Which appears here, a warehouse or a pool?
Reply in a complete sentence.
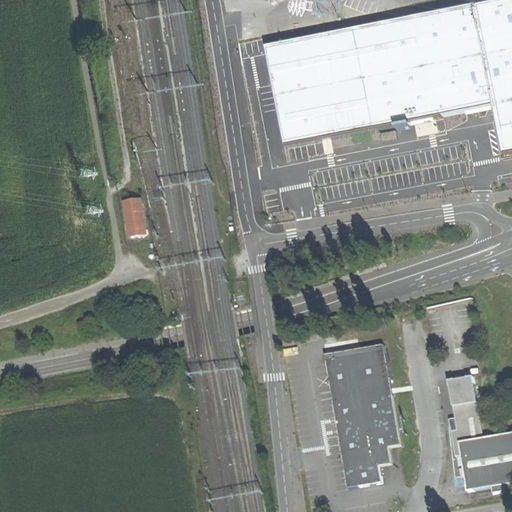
Of the two, only a warehouse appears.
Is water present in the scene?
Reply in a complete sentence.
No, the scene doesn't show any water.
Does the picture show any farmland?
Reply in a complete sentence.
Yes, some farmland is visible.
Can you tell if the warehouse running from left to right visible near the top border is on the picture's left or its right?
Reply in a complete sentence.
The warehouse running from left to right visible near the top border appears in the right half of the scene.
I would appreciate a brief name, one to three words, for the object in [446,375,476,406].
building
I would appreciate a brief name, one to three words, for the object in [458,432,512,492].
building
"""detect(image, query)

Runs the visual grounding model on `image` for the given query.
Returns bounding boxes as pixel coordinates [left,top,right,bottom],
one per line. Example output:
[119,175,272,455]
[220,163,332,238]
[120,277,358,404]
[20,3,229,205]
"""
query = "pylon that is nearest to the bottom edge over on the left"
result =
[89,202,102,218]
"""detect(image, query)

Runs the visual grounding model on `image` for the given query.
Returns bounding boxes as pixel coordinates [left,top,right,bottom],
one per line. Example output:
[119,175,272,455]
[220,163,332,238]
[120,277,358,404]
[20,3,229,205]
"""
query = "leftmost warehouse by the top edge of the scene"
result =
[264,2,490,143]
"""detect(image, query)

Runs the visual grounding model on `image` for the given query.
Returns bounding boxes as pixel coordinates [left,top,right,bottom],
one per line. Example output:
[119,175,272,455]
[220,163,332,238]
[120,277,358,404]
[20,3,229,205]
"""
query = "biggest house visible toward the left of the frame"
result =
[122,197,148,238]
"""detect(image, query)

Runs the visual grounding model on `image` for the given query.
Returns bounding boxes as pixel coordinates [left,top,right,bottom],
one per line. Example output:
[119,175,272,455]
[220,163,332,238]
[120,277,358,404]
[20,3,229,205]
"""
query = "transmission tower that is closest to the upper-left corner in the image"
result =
[84,164,96,181]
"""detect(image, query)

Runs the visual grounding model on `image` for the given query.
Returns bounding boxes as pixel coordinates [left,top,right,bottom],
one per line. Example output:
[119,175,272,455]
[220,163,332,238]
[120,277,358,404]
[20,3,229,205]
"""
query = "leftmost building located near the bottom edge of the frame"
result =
[324,344,402,492]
